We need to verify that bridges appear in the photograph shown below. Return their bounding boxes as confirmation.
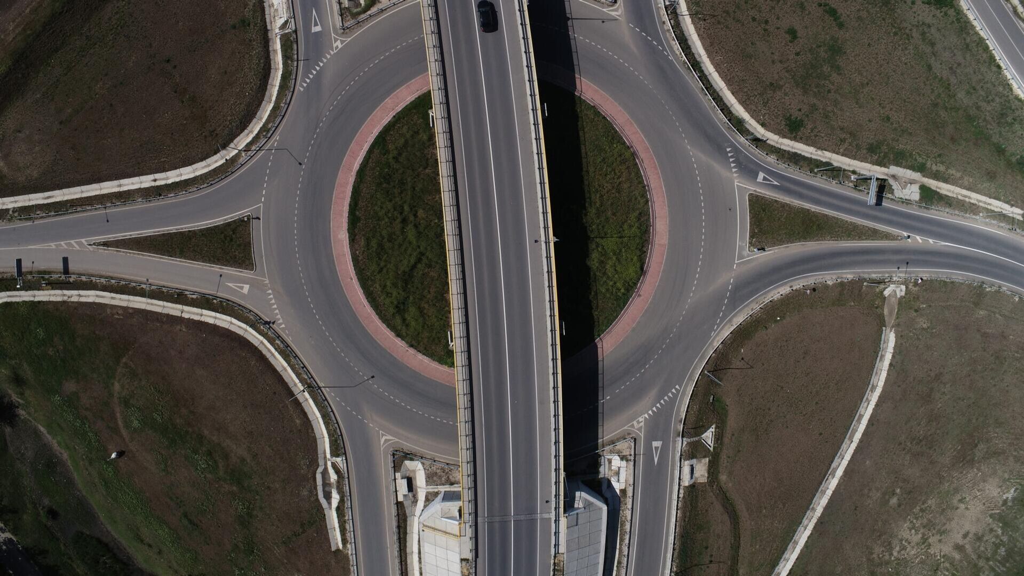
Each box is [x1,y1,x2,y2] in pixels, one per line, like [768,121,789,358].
[417,0,606,576]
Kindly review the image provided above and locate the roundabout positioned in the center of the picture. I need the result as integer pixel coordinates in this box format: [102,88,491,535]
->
[260,0,738,461]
